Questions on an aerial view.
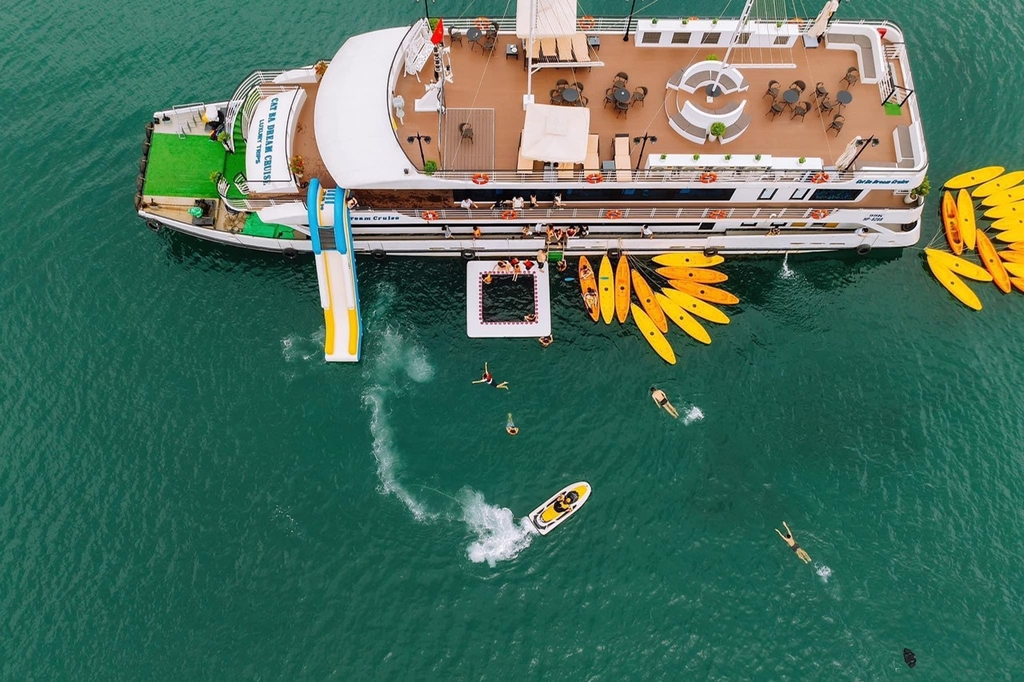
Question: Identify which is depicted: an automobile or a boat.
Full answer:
The image shows a boat.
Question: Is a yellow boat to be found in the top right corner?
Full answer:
Yes, I can see a yellow boat in the top right corner.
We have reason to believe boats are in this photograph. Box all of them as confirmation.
[942,166,1007,189]
[941,190,963,255]
[998,248,1024,264]
[990,215,1024,230]
[1007,241,1024,251]
[925,247,994,281]
[668,278,740,304]
[1008,276,1024,295]
[656,265,728,284]
[652,253,725,267]
[1002,262,1024,279]
[958,188,978,250]
[926,254,982,310]
[977,228,1010,293]
[598,255,615,324]
[655,291,711,345]
[983,199,1024,218]
[631,269,667,333]
[529,484,590,539]
[662,287,730,324]
[981,184,1024,206]
[971,171,1024,197]
[631,303,675,365]
[615,255,632,323]
[995,228,1024,242]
